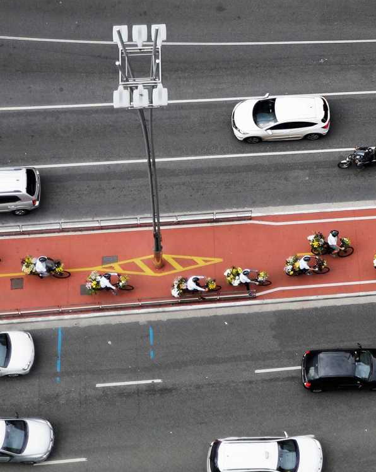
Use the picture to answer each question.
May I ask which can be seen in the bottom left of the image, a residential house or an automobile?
automobile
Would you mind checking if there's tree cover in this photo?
No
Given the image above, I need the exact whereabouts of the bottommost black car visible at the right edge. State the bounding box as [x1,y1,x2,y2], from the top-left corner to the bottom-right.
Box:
[300,341,376,394]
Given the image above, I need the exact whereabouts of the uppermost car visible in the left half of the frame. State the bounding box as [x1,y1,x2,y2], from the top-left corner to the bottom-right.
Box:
[0,167,41,216]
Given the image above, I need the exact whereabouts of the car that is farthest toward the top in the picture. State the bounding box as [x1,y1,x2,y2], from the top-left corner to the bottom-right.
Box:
[231,92,331,144]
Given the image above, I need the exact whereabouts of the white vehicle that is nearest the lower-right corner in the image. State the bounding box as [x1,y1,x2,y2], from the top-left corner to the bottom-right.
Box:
[206,423,323,472]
